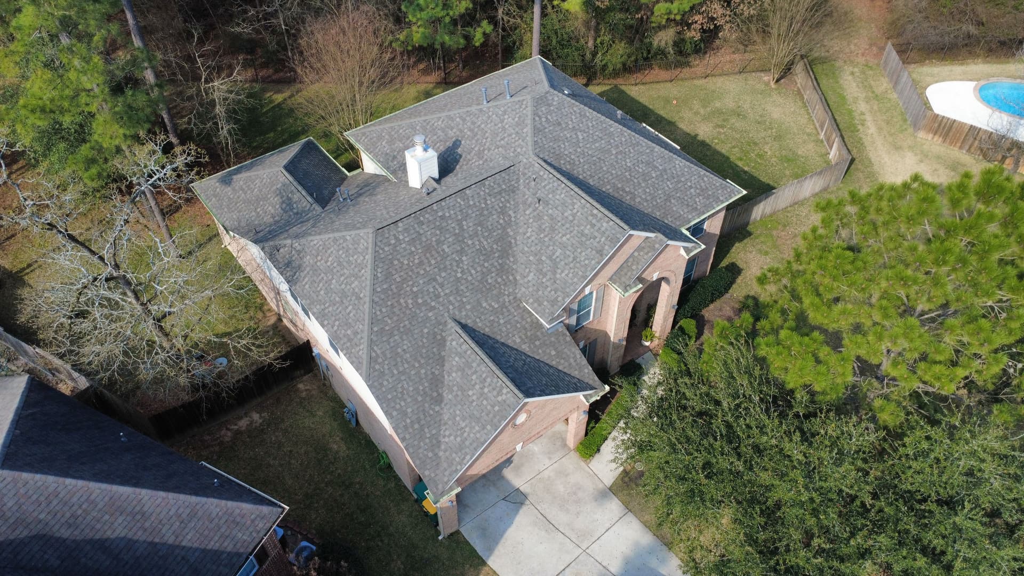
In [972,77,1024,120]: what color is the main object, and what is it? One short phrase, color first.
blue swimming pool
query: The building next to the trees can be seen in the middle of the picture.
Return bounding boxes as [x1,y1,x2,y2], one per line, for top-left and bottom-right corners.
[191,56,749,544]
